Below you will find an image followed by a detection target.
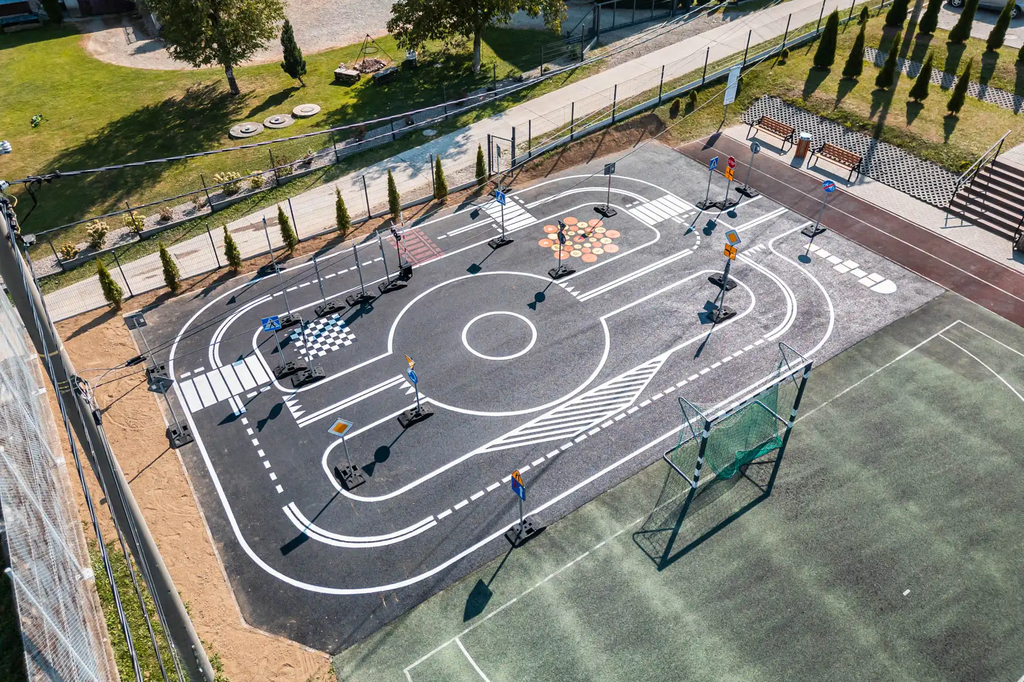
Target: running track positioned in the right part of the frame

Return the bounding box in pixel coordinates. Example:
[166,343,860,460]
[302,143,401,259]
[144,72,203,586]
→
[673,131,1024,327]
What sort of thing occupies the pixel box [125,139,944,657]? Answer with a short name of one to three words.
playground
